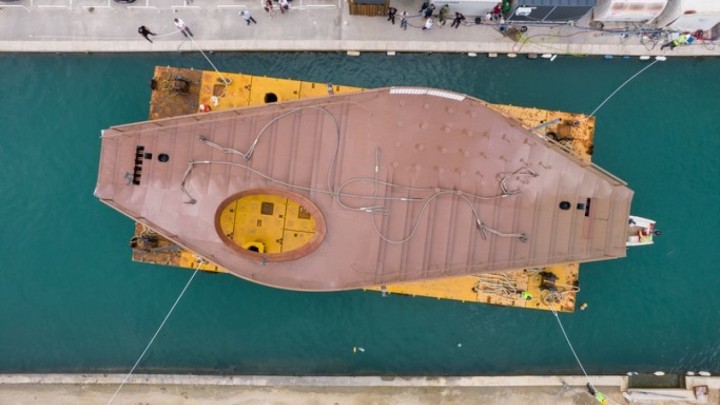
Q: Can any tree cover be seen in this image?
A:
No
